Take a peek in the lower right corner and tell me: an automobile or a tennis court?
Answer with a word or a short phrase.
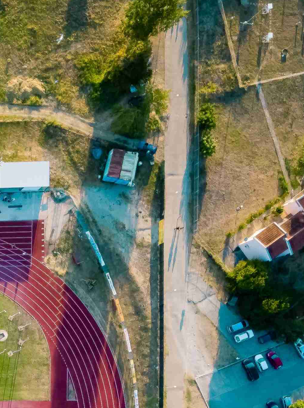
automobile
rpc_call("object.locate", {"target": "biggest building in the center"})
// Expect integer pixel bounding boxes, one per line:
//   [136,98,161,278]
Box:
[100,149,140,186]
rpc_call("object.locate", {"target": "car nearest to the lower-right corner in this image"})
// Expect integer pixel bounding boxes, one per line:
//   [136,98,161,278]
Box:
[279,395,293,408]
